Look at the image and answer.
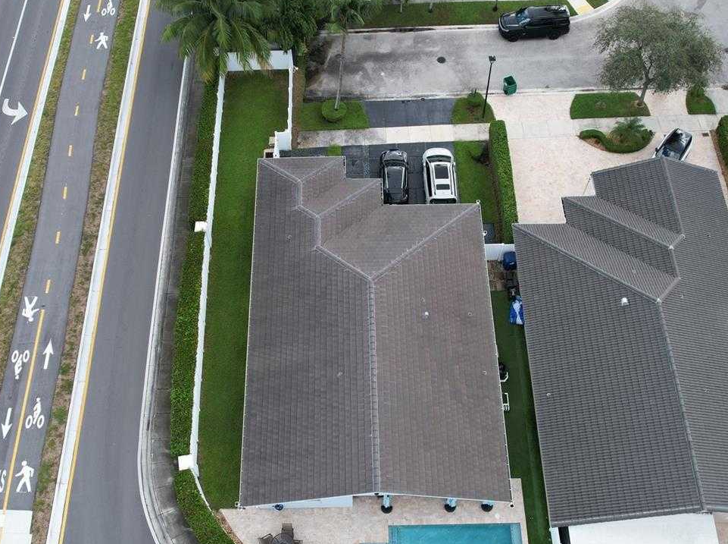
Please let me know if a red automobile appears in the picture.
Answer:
No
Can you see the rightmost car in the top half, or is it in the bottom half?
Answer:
top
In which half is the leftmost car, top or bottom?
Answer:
top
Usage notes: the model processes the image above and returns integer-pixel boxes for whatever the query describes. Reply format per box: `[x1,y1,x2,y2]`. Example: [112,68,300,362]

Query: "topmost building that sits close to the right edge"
[511,159,728,526]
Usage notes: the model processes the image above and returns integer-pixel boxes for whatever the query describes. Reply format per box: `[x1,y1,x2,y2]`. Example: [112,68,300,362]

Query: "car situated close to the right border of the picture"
[656,127,698,165]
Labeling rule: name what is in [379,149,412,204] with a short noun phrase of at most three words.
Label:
car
